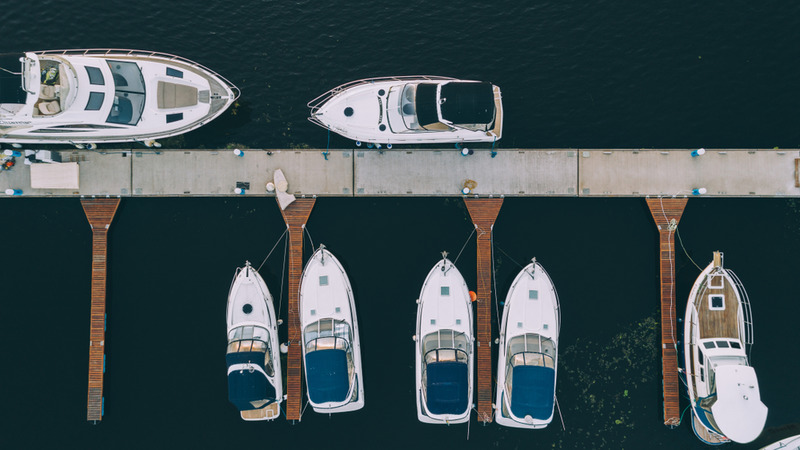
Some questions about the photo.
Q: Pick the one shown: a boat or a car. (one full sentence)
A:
The one in the frame is a boat.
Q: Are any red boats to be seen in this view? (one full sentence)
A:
No, the scene contains no red boat.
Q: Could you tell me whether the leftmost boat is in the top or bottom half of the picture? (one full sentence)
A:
It is in the top half that the leftmost boat appears.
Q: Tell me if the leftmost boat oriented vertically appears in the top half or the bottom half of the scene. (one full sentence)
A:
Seen from above, the leftmost boat oriented vertically lies in the bottom half of the view.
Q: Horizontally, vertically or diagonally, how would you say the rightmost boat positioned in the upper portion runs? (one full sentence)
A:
From this overhead view, the rightmost boat positioned in the upper portion appears to run horizontally.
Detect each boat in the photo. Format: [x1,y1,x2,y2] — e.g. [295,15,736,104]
[0,49,242,145]
[308,76,504,145]
[416,252,474,423]
[298,243,366,416]
[226,259,283,422]
[762,434,800,450]
[496,258,560,430]
[677,252,768,445]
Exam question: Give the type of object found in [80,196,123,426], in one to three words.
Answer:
pier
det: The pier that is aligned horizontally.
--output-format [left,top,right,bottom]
[0,150,800,198]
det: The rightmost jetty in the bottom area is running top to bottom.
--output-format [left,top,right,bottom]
[643,196,689,429]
